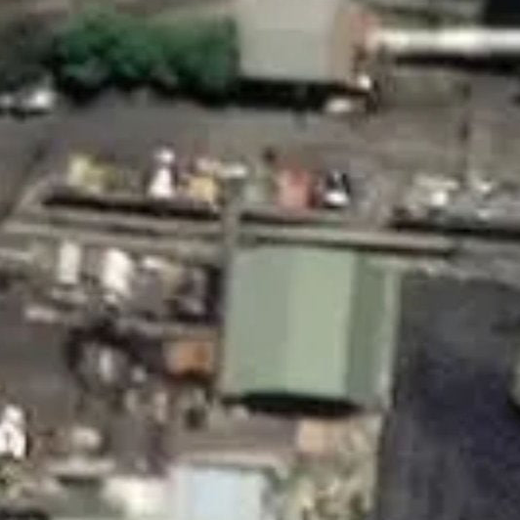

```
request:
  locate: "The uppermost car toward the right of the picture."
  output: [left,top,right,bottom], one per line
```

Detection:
[324,95,358,114]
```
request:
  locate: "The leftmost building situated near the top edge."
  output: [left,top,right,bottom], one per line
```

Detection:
[234,0,366,92]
